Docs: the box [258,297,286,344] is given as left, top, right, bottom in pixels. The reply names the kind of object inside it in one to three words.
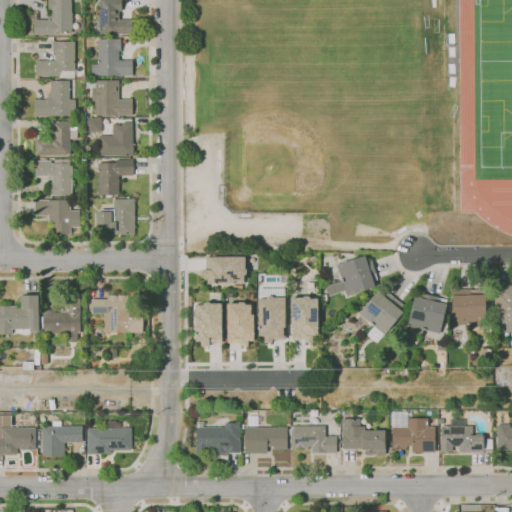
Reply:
house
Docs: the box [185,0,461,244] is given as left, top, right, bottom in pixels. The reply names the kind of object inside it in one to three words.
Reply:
sports field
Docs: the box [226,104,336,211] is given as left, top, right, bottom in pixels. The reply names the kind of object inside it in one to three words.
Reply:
baseball field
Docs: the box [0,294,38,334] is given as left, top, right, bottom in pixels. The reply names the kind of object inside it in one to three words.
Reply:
house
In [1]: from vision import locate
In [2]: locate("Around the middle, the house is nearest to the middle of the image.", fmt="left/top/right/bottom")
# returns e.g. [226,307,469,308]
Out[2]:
[202,257,246,286]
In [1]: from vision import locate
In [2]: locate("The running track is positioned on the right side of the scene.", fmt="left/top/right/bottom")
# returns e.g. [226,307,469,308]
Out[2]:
[461,0,512,234]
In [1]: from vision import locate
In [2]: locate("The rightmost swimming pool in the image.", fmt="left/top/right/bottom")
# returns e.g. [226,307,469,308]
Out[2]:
[468,415,488,434]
